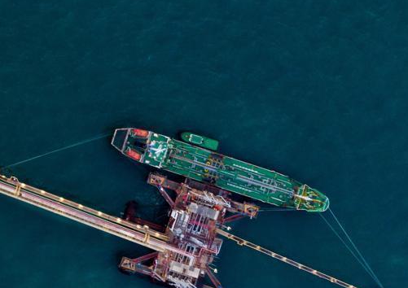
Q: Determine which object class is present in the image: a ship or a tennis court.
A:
ship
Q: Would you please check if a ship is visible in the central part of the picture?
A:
Yes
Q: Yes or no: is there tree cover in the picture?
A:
No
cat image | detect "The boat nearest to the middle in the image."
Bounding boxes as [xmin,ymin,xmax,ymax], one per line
[180,131,219,150]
